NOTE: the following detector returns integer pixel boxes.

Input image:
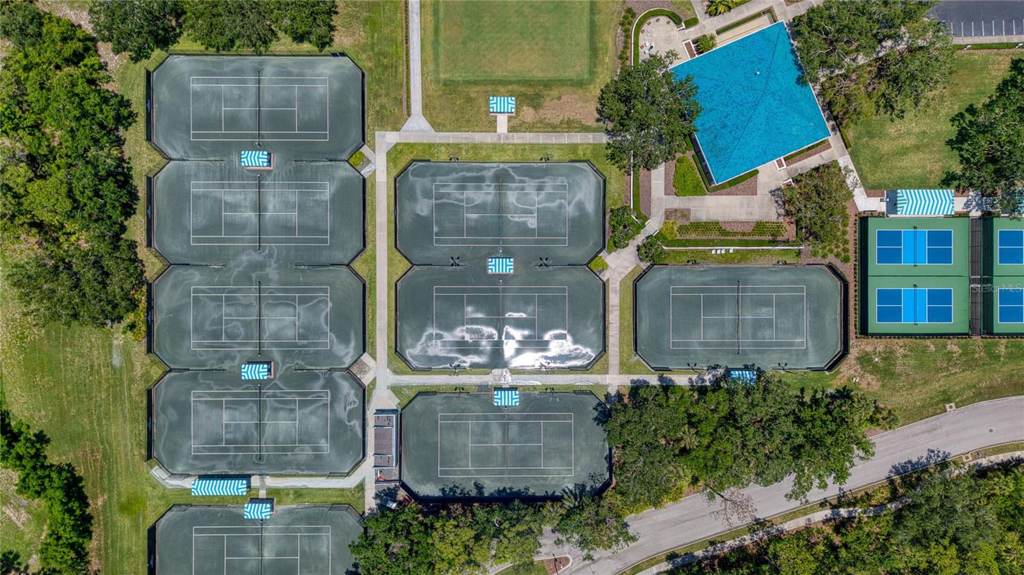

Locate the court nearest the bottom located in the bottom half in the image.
[155,505,364,575]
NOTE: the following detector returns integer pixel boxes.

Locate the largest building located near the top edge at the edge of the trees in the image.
[665,20,831,186]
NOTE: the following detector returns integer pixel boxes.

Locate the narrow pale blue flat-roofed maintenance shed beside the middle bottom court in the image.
[370,409,397,469]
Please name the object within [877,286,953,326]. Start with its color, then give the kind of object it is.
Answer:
blue sports court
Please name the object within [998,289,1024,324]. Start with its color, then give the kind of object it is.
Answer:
blue sports court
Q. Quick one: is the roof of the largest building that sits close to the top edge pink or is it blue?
blue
